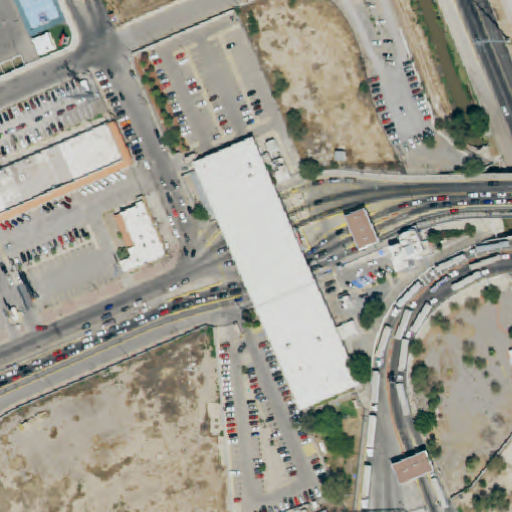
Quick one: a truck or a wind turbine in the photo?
truck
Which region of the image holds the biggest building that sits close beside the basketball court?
top left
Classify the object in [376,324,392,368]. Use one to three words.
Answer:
vehicle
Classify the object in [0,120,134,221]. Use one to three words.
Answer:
building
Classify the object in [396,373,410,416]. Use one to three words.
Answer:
vehicle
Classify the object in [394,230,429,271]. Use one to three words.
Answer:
building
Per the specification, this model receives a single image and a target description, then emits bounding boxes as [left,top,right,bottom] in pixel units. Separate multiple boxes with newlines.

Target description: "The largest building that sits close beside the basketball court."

[32,32,58,56]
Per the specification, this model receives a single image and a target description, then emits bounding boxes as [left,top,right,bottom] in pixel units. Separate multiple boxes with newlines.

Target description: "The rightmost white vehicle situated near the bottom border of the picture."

[426,471,448,508]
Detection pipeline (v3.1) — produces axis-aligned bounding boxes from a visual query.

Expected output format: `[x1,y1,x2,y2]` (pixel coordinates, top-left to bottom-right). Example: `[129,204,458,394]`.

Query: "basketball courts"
[14,0,64,36]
